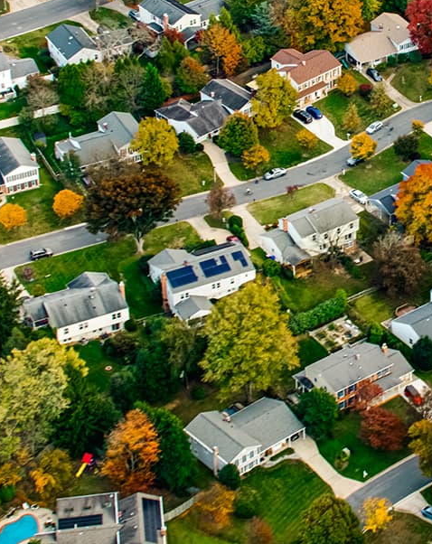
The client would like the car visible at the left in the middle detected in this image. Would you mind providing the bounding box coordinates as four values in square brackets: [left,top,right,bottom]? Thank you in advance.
[26,247,56,263]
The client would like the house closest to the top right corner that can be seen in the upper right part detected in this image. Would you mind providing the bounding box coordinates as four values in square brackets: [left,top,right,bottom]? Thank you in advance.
[340,12,422,76]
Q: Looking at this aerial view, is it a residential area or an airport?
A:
residential area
